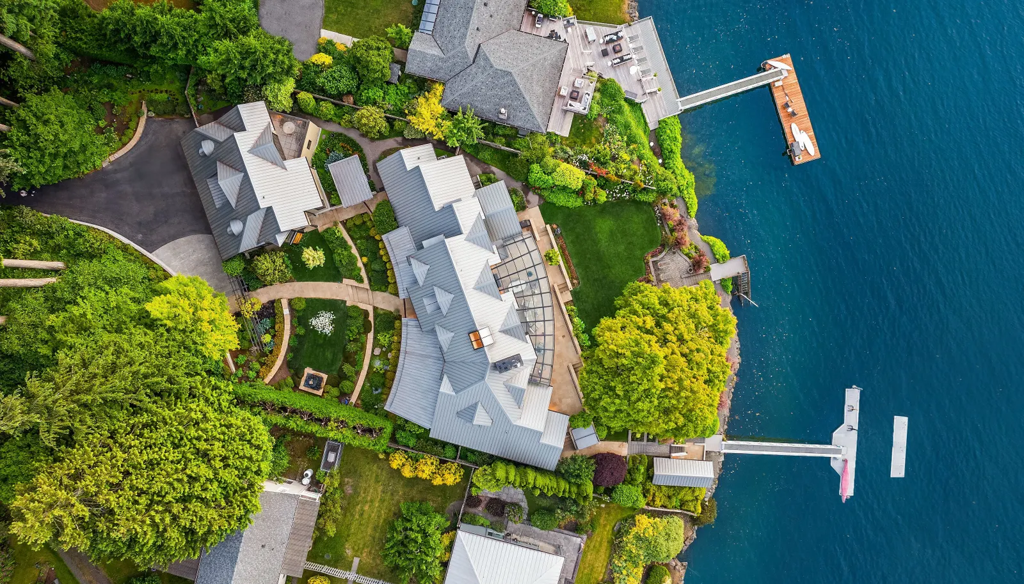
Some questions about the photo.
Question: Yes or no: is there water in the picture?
Yes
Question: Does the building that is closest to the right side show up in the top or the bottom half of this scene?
bottom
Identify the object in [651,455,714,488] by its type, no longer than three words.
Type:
building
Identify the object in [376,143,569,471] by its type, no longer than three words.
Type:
house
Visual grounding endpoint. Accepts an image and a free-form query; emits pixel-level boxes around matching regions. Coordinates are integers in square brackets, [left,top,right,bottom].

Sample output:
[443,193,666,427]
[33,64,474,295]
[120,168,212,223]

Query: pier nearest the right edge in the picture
[888,415,908,477]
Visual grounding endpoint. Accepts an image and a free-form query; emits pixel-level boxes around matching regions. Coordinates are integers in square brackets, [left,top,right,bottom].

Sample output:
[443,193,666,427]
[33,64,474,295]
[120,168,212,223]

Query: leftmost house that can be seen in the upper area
[180,101,335,261]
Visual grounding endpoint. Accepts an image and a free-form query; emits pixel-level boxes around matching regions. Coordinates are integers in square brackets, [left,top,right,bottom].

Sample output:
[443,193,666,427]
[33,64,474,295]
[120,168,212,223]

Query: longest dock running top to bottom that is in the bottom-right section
[829,389,860,496]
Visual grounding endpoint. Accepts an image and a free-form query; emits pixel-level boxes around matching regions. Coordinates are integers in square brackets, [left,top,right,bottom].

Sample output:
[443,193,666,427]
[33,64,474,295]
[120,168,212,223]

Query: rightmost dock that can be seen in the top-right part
[764,55,821,166]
